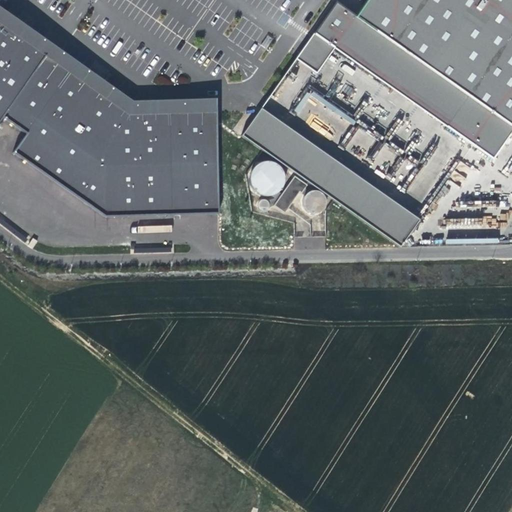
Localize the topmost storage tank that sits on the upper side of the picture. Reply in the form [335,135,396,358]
[251,160,286,196]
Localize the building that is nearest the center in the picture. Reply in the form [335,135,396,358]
[274,176,308,212]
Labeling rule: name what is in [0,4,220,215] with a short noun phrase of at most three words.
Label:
building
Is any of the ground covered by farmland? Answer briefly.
Yes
